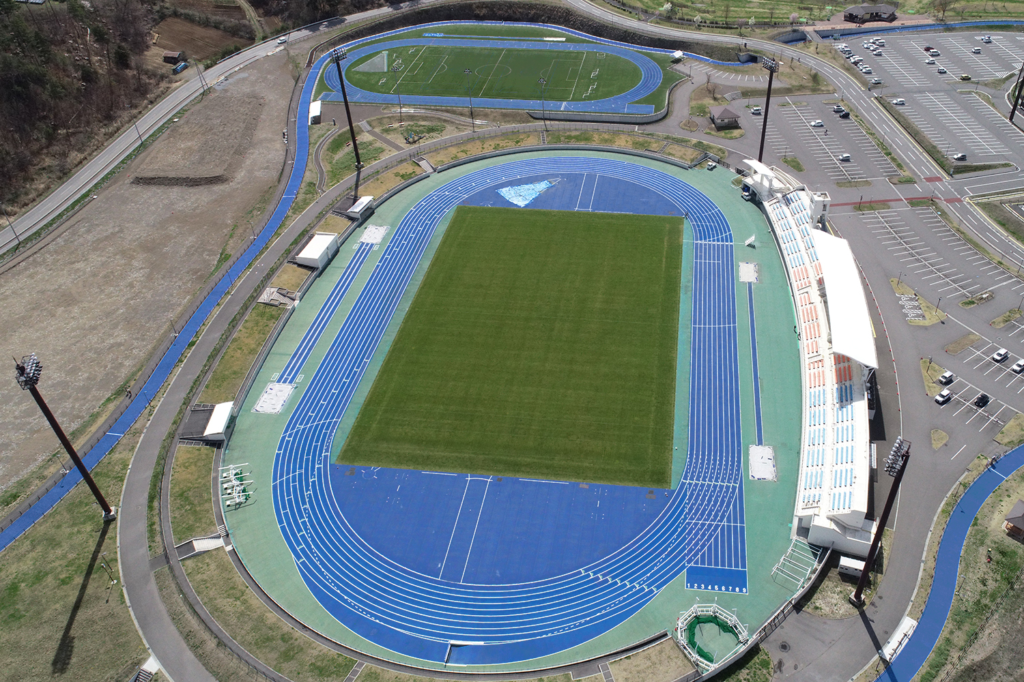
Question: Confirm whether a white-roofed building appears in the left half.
Yes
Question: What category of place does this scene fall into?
sports ground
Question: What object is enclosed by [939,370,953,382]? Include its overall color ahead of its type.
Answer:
white vehicle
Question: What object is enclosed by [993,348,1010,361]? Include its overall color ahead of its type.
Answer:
white vehicle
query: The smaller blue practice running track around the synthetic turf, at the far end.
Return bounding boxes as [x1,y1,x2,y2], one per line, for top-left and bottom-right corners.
[310,25,686,115]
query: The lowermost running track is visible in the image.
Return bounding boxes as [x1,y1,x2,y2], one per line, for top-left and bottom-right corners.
[224,148,827,676]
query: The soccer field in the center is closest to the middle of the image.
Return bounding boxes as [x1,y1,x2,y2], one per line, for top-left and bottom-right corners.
[335,206,684,489]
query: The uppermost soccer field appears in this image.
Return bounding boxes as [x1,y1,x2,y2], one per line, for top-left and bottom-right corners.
[347,45,643,101]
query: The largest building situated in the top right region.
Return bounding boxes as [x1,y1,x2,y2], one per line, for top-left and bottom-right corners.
[741,160,805,212]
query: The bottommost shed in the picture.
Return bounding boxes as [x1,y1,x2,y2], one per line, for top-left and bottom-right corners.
[837,556,866,579]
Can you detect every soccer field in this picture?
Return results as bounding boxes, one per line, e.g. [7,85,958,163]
[347,45,643,101]
[335,206,684,489]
